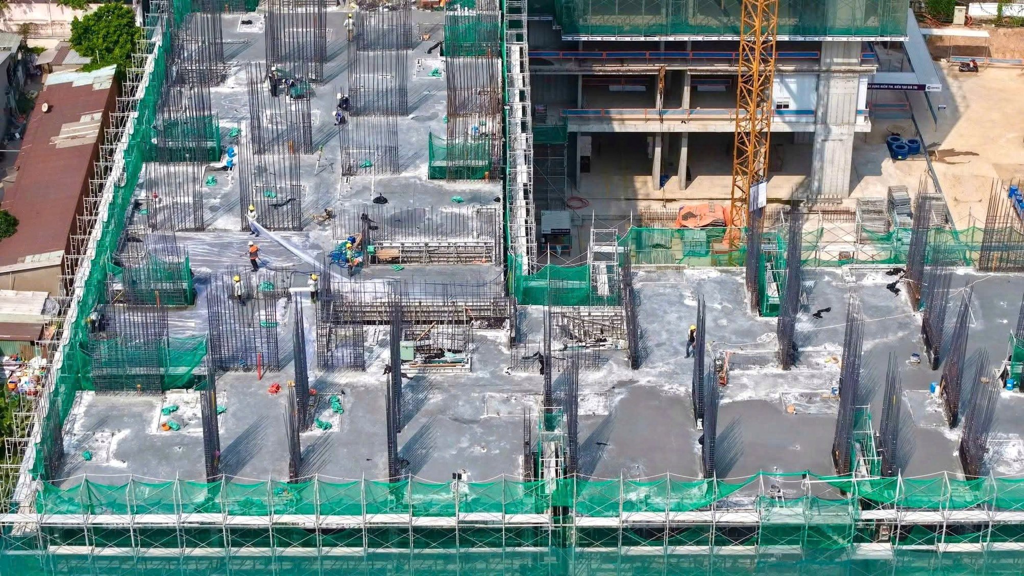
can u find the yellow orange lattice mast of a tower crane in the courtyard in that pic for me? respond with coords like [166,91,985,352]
[723,0,780,232]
